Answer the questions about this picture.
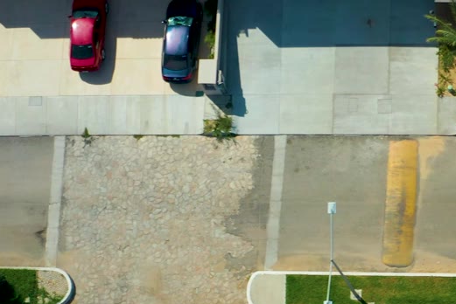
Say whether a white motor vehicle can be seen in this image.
No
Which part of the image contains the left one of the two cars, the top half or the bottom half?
top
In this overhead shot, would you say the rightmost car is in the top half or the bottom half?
top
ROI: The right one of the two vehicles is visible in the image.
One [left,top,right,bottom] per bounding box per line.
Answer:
[159,0,202,85]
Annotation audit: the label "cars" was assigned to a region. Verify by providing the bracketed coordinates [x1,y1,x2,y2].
[68,0,112,73]
[159,0,202,85]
